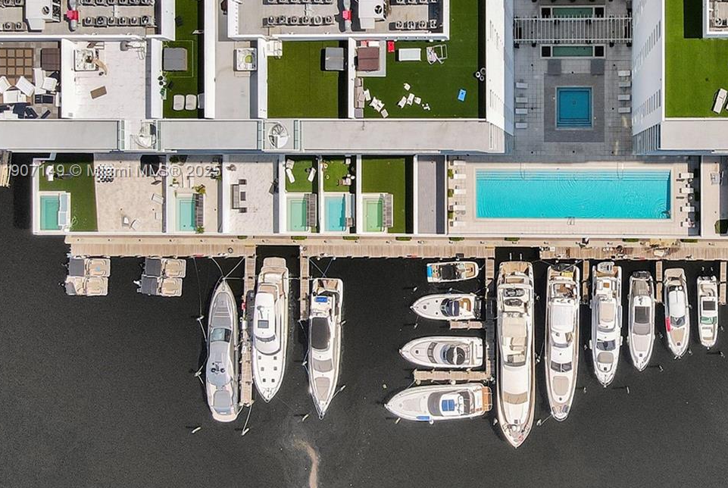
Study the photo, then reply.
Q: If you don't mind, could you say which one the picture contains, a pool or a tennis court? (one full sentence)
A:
I can see a pool in this picture.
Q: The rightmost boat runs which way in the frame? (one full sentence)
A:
Seen from above, the rightmost boat lies up and down.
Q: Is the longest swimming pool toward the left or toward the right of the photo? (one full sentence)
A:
The longest swimming pool is on the right side of the image.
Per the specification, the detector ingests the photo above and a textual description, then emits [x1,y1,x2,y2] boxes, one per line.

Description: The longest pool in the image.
[471,163,676,224]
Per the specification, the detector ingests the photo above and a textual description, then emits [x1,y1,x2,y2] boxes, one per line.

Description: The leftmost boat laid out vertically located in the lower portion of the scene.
[206,280,243,420]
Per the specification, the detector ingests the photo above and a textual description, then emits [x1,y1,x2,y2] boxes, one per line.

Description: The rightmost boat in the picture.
[696,267,719,348]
